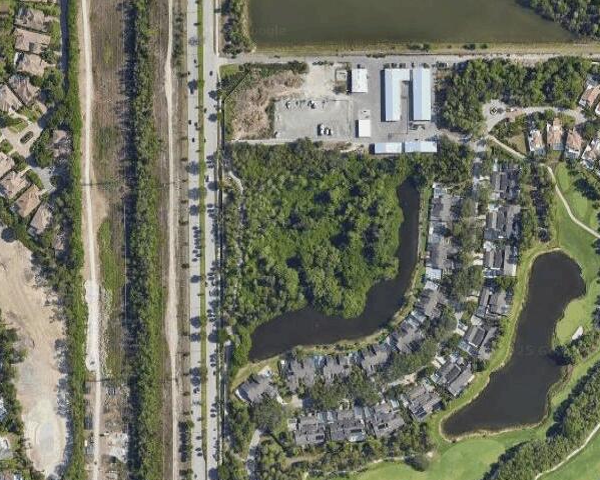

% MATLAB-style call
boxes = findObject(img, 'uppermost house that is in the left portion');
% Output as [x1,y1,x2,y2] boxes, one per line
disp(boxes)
[20,8,47,26]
